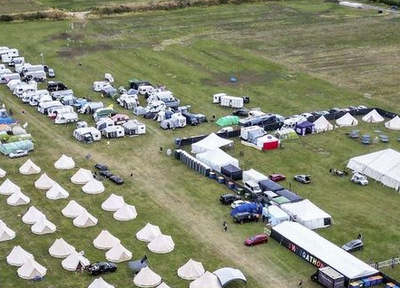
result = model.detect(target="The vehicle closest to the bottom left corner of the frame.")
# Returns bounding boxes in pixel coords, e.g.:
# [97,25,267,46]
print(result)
[87,259,114,273]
